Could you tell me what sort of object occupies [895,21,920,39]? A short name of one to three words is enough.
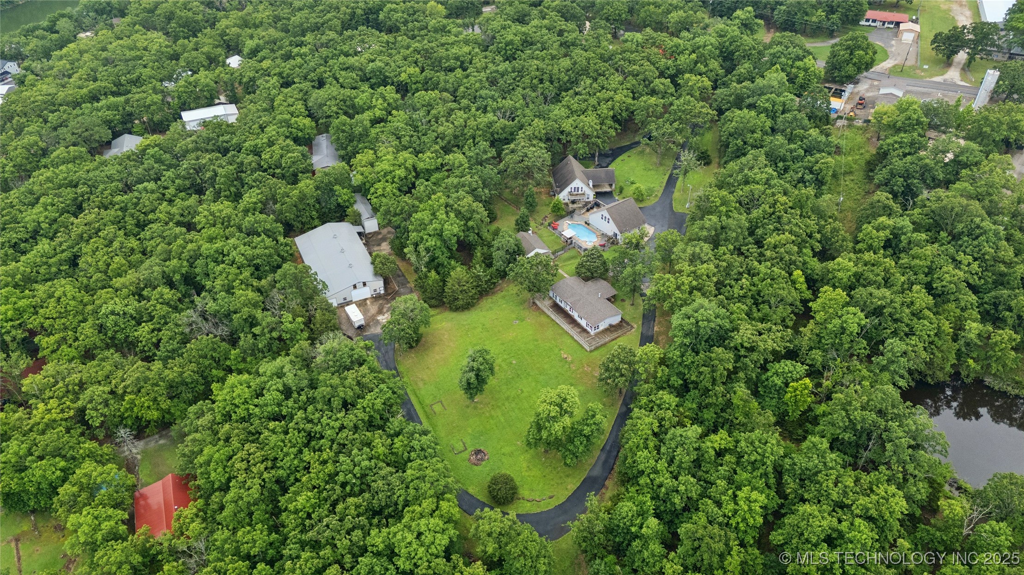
building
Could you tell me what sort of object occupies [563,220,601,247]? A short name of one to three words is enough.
swimming pool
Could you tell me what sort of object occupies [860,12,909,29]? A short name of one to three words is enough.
house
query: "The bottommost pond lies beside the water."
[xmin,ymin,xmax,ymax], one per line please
[891,374,1024,491]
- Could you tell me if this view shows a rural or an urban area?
rural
